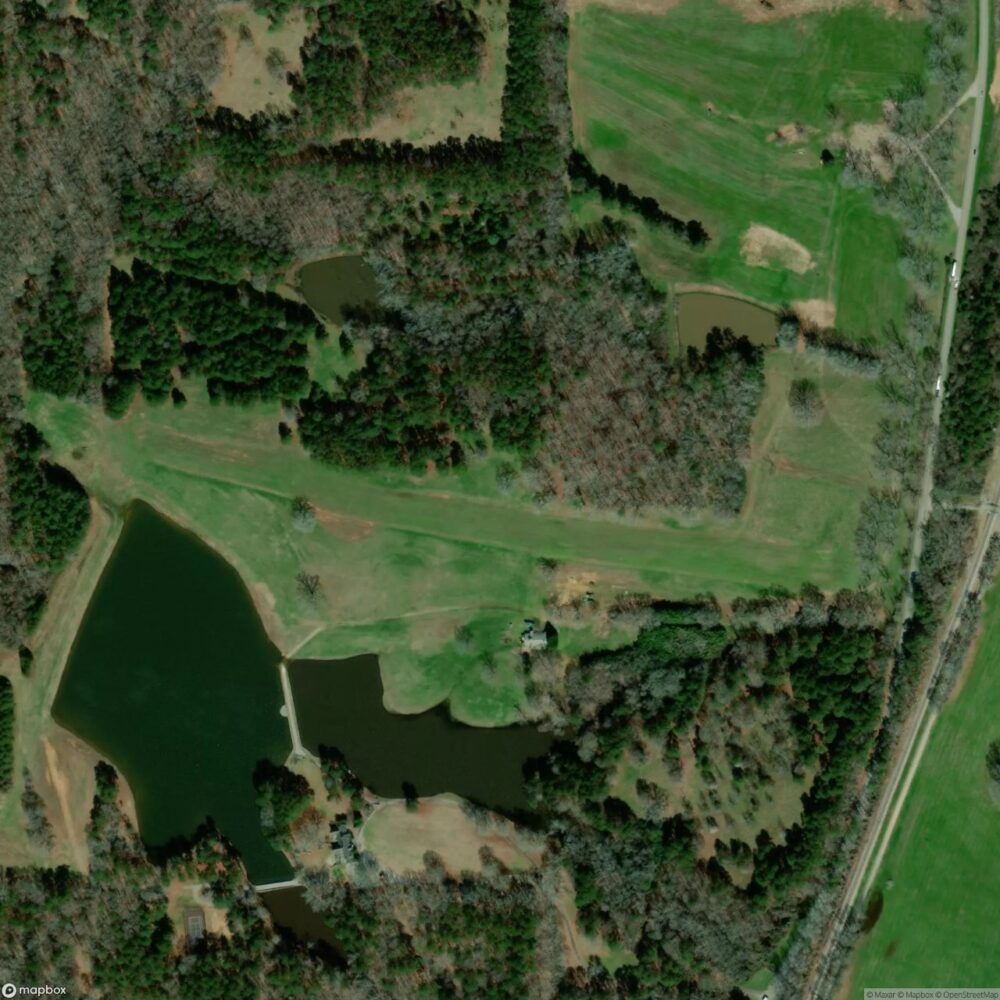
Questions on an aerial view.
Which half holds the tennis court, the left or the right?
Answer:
left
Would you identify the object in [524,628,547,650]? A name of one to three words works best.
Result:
house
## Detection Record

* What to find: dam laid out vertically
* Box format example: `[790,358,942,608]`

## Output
[278,659,304,754]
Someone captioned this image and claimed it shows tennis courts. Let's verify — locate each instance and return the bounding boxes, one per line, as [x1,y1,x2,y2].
[186,907,206,943]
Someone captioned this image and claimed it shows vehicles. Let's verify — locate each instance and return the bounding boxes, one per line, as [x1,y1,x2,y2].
[951,260,957,278]
[937,376,942,393]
